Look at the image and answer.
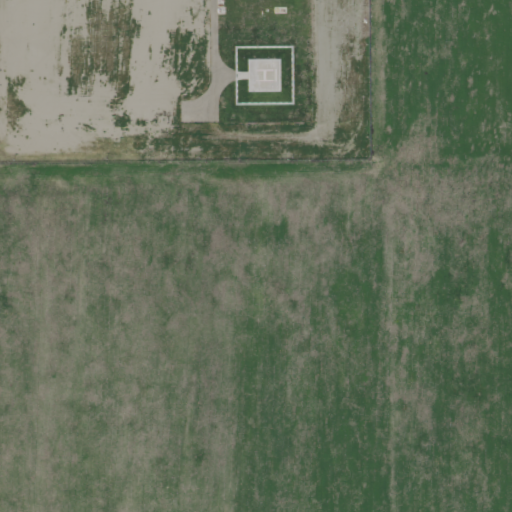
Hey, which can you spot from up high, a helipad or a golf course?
helipad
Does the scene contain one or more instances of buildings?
No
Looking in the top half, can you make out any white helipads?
Yes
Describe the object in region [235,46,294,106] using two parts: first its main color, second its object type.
white helipad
